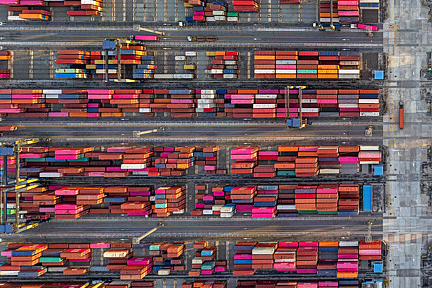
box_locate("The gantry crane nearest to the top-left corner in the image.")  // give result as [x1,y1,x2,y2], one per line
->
[102,38,140,84]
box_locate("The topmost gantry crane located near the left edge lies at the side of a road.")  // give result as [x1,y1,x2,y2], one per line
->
[1,137,46,187]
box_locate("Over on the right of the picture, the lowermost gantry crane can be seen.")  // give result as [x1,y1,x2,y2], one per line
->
[286,83,310,127]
